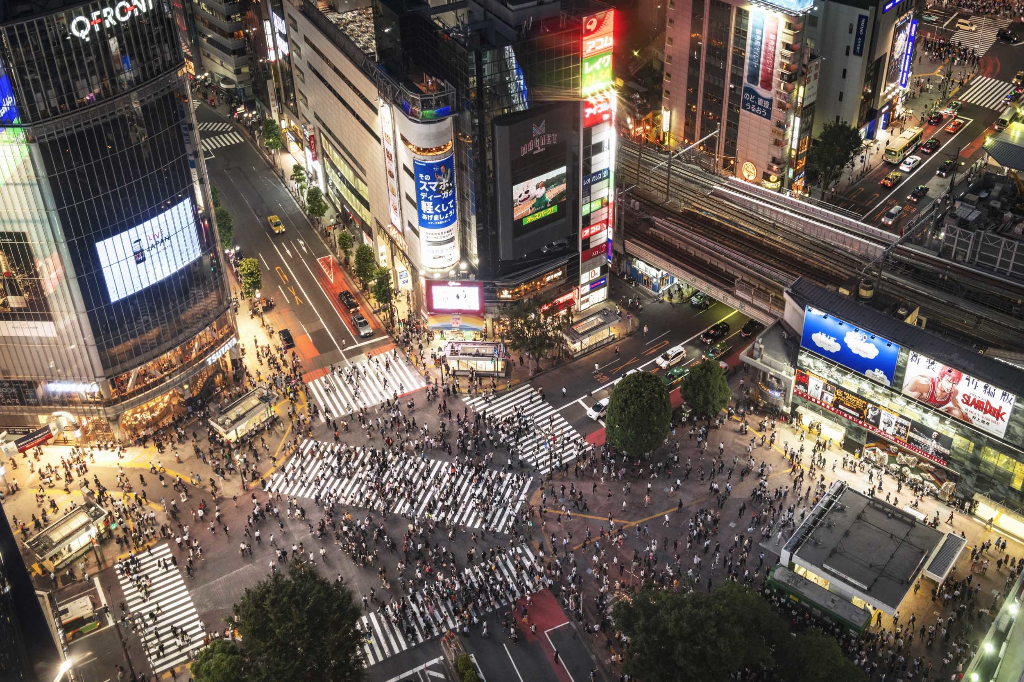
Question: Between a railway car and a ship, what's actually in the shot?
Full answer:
It is a railway car that can be seen here.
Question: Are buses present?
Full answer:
Yes, looking at the shot, I can spot a bus.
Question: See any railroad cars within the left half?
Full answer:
No, no railroad car appears within the left half.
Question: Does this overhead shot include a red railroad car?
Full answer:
No, I can see no red railroad car in this picture.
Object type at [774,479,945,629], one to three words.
building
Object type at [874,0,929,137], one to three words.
building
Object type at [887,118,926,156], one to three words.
bus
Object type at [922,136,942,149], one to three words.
vehicle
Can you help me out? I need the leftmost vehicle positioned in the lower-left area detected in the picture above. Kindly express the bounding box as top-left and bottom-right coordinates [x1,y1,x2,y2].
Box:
[60,599,101,641]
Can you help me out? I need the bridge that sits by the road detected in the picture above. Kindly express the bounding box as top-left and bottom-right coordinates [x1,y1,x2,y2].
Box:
[608,135,1024,362]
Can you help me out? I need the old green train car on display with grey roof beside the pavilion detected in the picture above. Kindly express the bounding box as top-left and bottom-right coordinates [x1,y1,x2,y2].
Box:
[767,567,872,645]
